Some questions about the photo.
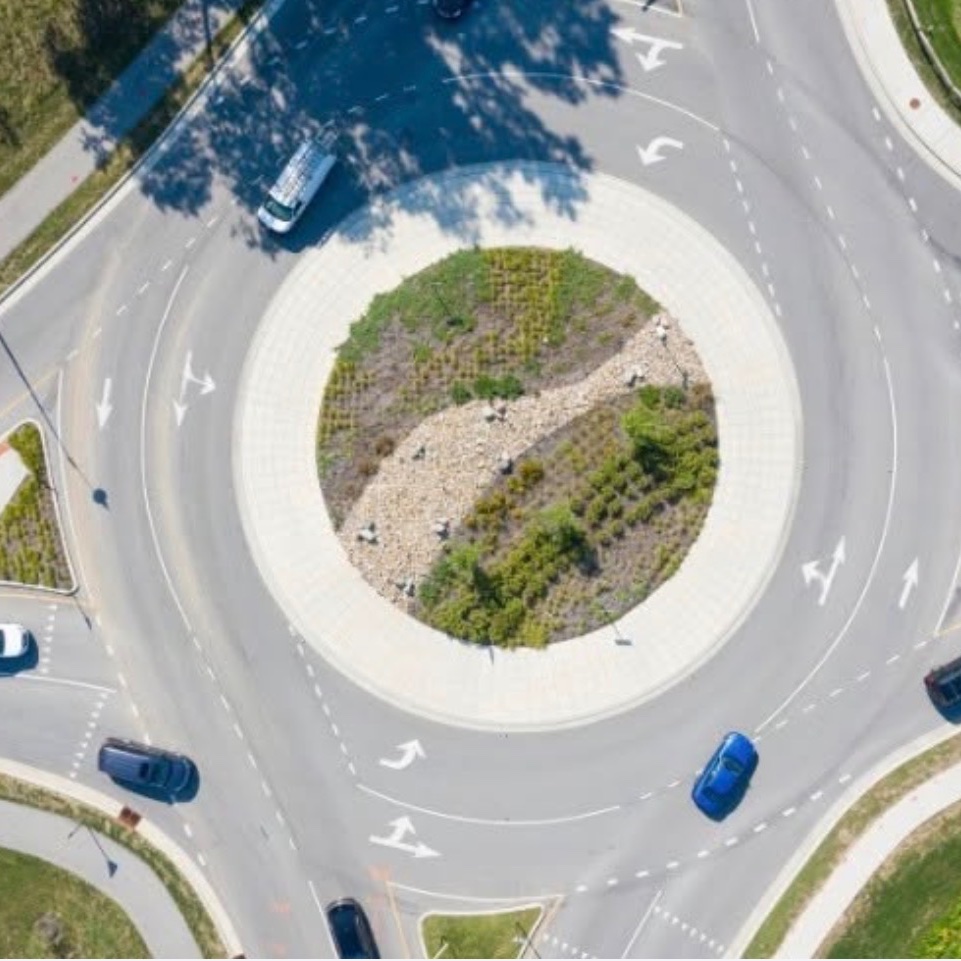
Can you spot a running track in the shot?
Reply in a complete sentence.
No, no running track can be seen from above.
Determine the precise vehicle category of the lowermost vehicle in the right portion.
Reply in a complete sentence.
I'd identify the lowermost vehicle in the right portion as an automobile.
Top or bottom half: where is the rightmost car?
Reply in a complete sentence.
The rightmost car is in the bottom half of the image.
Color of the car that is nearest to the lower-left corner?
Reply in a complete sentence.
The color of the car that is nearest to the lower-left corner is blue.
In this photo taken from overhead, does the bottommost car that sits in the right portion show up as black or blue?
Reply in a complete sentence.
The color of the bottommost car that sits in the right portion is blue.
